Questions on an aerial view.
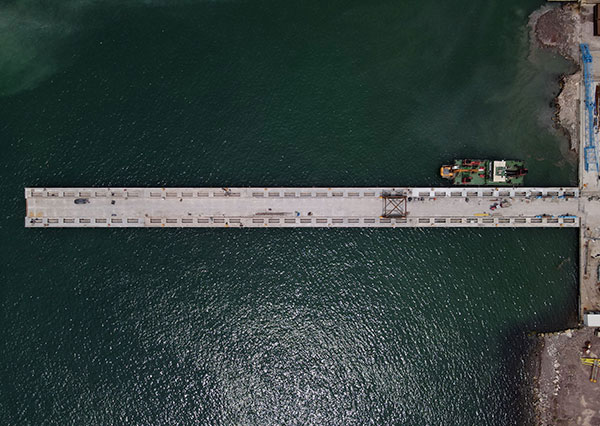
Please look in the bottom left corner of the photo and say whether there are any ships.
No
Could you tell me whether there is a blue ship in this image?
No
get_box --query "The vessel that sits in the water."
[439,159,527,186]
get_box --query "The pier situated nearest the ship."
[25,188,579,227]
